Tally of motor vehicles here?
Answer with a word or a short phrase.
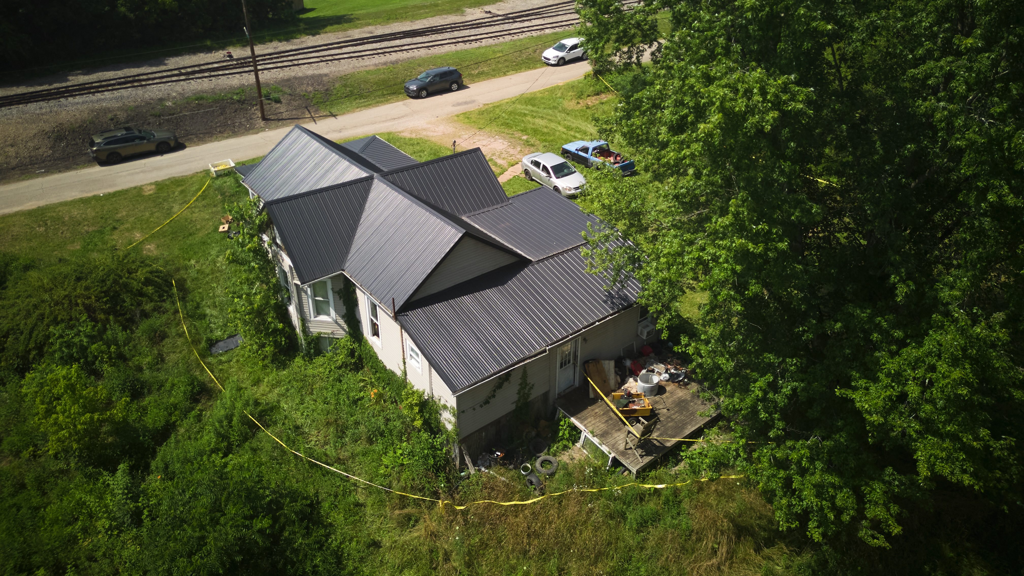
five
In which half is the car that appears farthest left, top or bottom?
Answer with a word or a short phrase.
top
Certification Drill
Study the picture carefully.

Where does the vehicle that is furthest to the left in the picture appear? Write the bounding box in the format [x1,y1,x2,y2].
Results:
[82,125,177,165]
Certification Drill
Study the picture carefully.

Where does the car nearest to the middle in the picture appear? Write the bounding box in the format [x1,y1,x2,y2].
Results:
[516,156,588,200]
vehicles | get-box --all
[82,125,177,165]
[562,142,640,180]
[545,33,593,62]
[516,156,588,200]
[401,61,464,97]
